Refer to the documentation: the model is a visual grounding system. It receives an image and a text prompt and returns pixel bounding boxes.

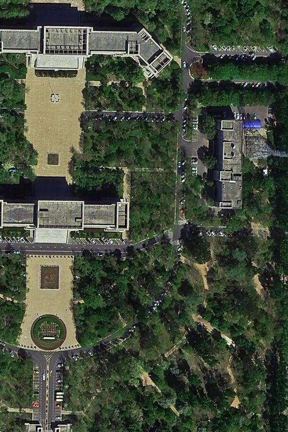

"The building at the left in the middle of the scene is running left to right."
[0,199,130,244]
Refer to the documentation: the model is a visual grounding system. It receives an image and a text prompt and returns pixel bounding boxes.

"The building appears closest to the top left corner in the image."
[0,27,175,78]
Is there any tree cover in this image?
Yes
